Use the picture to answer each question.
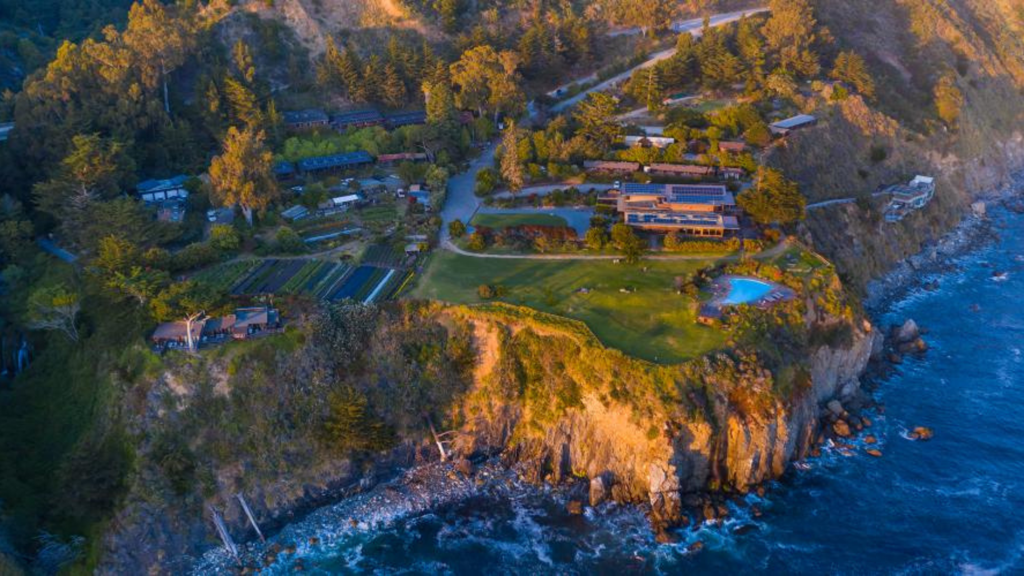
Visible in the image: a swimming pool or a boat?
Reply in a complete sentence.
There is a swimming pool in the scene.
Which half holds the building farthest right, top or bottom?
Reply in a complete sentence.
You can find the building farthest right in the top half.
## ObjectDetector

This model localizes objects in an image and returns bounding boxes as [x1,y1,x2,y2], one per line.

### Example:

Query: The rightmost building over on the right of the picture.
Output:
[881,175,937,228]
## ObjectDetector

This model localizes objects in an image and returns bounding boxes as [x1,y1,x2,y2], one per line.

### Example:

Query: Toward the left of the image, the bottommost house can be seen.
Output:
[150,299,283,358]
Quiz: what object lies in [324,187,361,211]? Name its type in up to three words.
greenhouse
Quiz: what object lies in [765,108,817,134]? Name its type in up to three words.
house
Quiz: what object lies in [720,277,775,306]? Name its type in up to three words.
swimming pool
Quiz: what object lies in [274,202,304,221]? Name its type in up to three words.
greenhouse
